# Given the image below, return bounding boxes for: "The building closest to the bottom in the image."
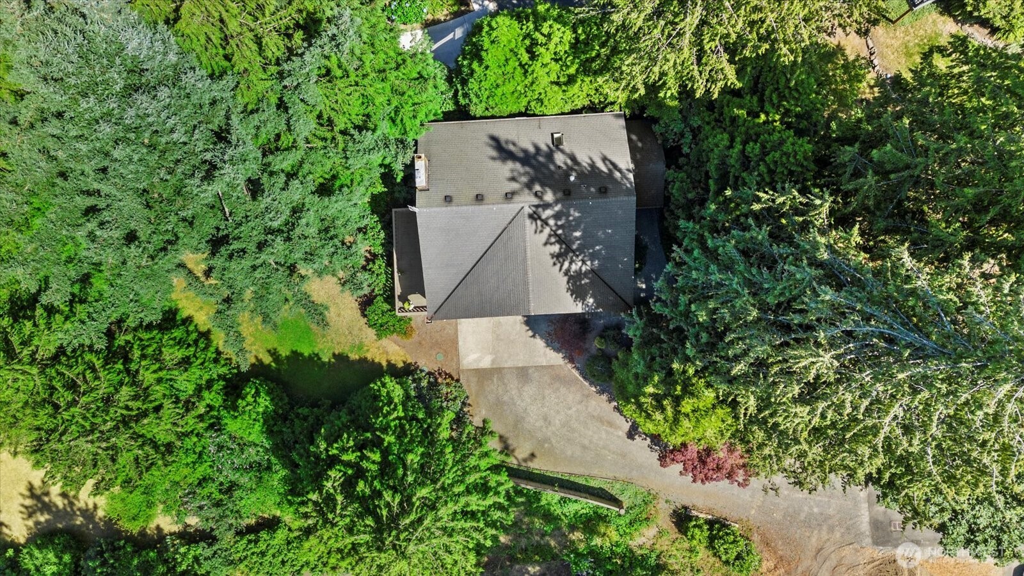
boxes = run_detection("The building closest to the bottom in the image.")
[415,109,664,325]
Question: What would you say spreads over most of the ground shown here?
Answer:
trees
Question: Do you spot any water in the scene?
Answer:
No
